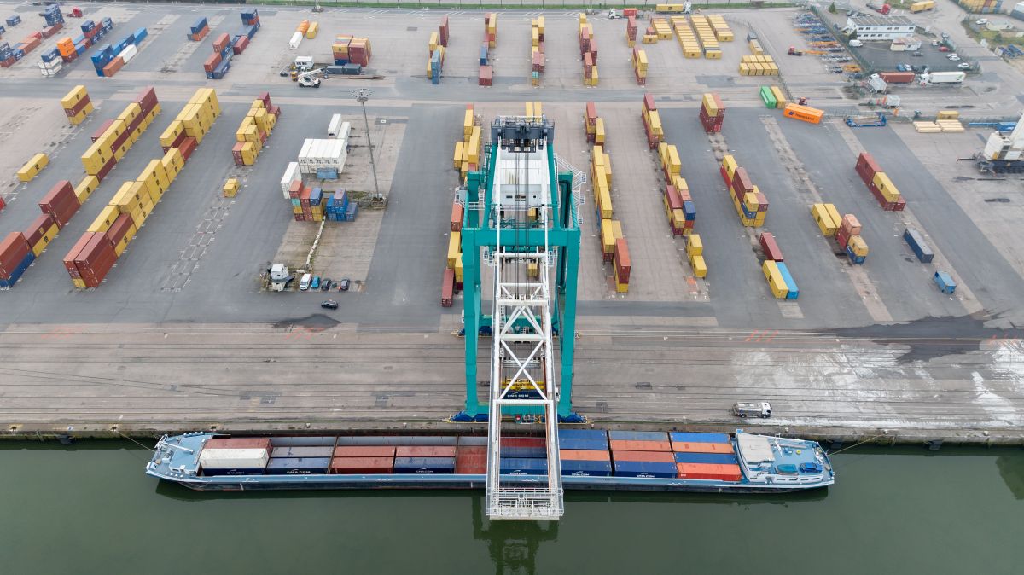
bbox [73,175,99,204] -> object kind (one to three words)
shipping container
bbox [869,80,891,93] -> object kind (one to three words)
vehicle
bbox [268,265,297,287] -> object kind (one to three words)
shed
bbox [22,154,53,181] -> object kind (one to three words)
shipping container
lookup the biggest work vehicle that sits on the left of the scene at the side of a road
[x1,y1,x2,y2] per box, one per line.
[297,61,327,87]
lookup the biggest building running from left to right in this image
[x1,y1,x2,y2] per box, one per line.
[845,14,921,40]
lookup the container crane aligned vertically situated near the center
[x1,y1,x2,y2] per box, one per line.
[439,121,601,520]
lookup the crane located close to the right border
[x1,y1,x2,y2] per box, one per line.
[960,130,1024,178]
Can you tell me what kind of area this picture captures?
port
